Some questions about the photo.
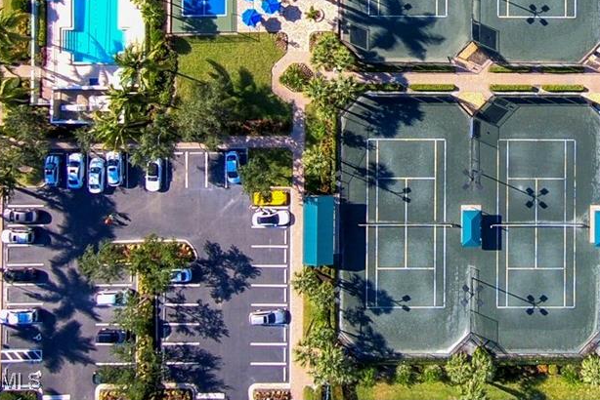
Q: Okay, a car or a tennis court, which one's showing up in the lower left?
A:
car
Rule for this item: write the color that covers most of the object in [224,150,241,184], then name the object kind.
blue car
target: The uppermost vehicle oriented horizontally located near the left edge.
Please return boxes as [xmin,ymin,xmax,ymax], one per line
[4,208,38,224]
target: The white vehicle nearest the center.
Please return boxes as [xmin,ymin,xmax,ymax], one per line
[254,210,289,226]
